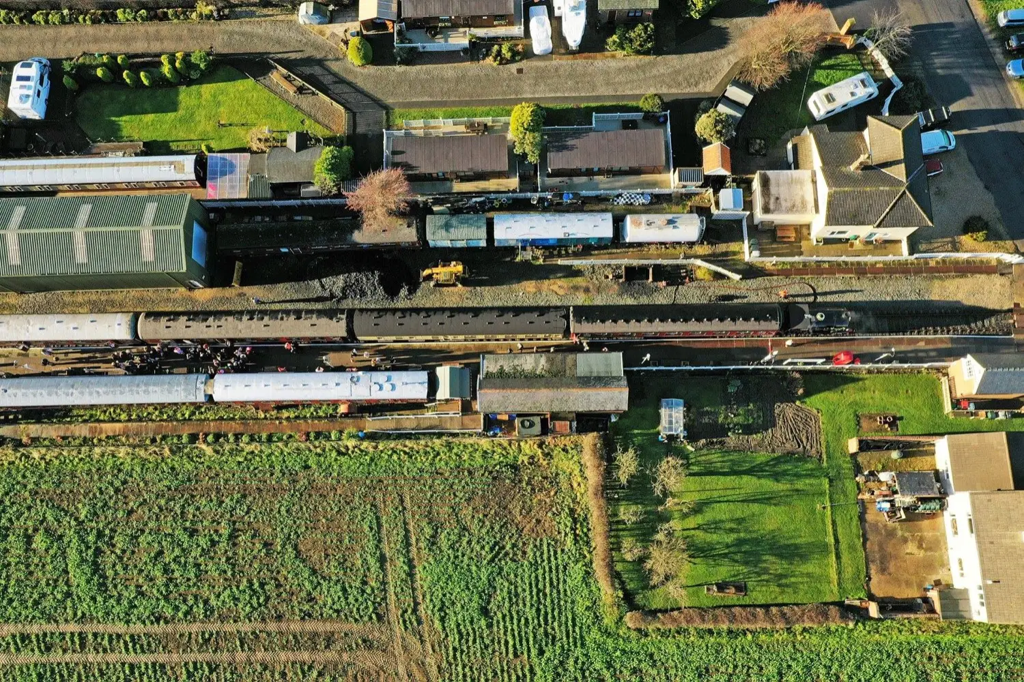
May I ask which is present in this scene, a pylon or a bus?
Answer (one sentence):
Of the two, only a bus appears.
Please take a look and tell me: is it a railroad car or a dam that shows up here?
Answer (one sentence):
The one in the frame is a railroad car.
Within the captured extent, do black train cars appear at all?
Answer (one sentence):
Yes, a black train car can be made out from above.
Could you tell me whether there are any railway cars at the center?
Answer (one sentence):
Yes, a railway car is visible at the center.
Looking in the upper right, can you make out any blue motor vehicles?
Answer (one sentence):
Yes, the scene does show a blue motor vehicle in the upper right.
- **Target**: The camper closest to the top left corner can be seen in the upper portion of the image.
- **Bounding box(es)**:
[9,59,53,118]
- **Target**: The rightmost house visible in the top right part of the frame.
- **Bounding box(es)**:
[751,114,934,241]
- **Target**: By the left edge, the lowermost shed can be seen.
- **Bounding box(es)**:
[0,193,213,293]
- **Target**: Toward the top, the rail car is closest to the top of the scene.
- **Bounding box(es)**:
[618,214,709,245]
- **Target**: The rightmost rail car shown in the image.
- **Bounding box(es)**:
[780,302,865,334]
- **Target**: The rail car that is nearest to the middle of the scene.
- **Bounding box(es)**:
[350,306,570,343]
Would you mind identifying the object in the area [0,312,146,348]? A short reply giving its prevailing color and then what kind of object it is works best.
white rail car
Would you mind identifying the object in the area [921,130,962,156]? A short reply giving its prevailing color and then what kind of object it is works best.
blue vehicle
